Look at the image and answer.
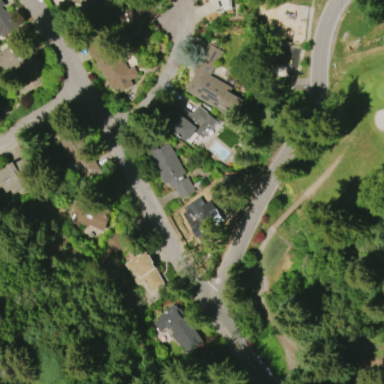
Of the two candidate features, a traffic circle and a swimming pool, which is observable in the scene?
swimming pool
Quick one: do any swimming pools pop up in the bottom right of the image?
No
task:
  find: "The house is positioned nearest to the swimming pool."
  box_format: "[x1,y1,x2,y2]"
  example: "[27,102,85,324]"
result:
[173,103,222,142]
